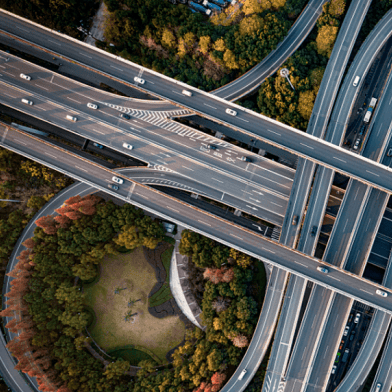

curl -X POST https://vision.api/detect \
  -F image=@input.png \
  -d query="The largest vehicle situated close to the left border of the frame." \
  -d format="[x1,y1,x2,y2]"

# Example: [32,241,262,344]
[12,122,46,137]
